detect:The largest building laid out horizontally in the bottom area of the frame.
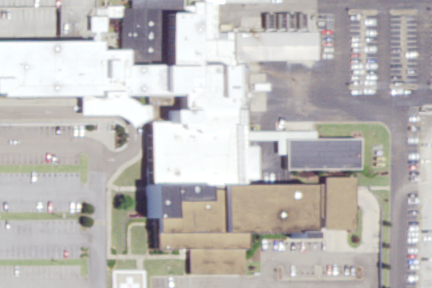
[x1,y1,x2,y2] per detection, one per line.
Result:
[142,176,358,274]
